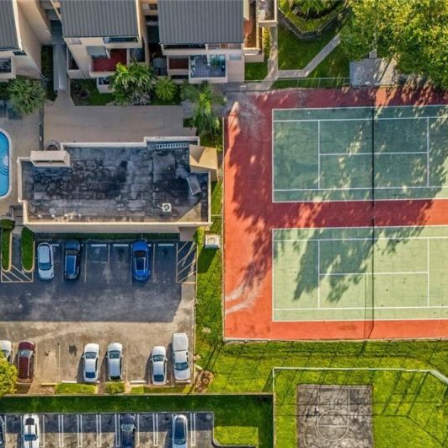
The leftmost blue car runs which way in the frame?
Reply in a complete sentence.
The leftmost blue car runs vertically in the image.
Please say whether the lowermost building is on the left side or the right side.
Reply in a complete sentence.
The lowermost building sits on the left side.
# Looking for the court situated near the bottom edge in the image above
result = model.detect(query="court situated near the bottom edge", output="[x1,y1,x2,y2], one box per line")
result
[297,386,373,448]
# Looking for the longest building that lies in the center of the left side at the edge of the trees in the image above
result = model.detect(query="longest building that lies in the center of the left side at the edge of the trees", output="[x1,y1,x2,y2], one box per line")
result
[17,136,217,241]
